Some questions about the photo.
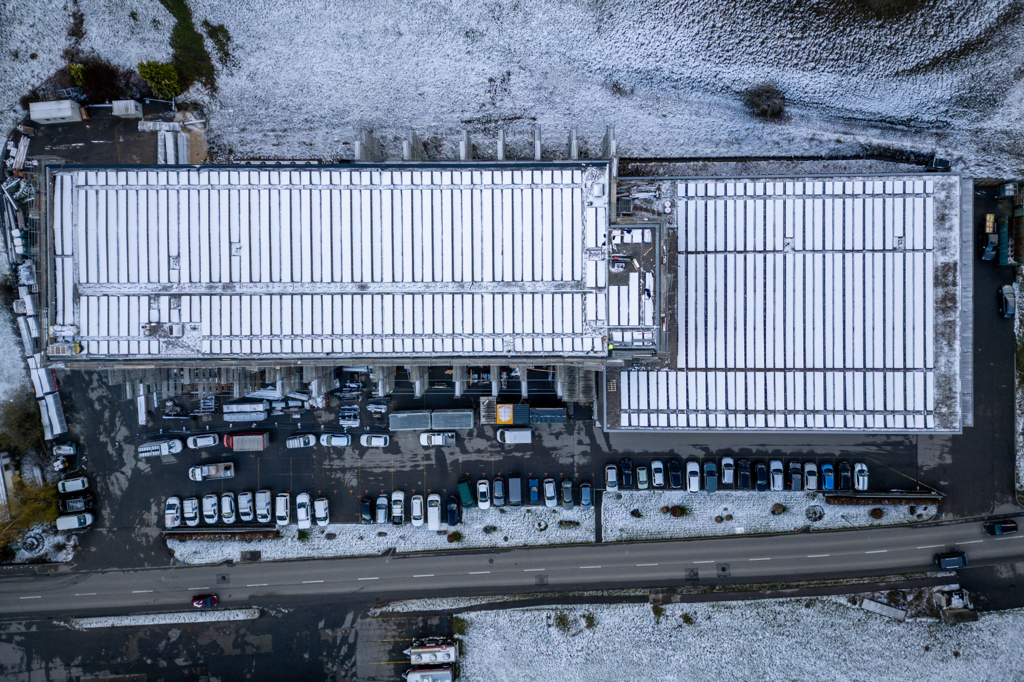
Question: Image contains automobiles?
Yes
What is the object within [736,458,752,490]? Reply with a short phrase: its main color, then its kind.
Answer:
black car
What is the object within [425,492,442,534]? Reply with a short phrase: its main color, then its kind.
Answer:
white vehicle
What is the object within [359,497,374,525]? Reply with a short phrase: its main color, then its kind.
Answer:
black car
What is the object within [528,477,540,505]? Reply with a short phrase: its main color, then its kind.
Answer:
blue vehicle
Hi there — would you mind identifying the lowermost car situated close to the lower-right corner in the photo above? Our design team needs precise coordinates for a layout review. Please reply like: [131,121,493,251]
[934,551,966,568]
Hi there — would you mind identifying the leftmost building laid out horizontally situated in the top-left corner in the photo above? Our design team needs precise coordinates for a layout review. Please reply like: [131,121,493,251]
[29,99,84,125]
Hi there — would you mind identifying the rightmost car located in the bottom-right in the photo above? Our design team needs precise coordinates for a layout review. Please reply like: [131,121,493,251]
[983,520,1017,536]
